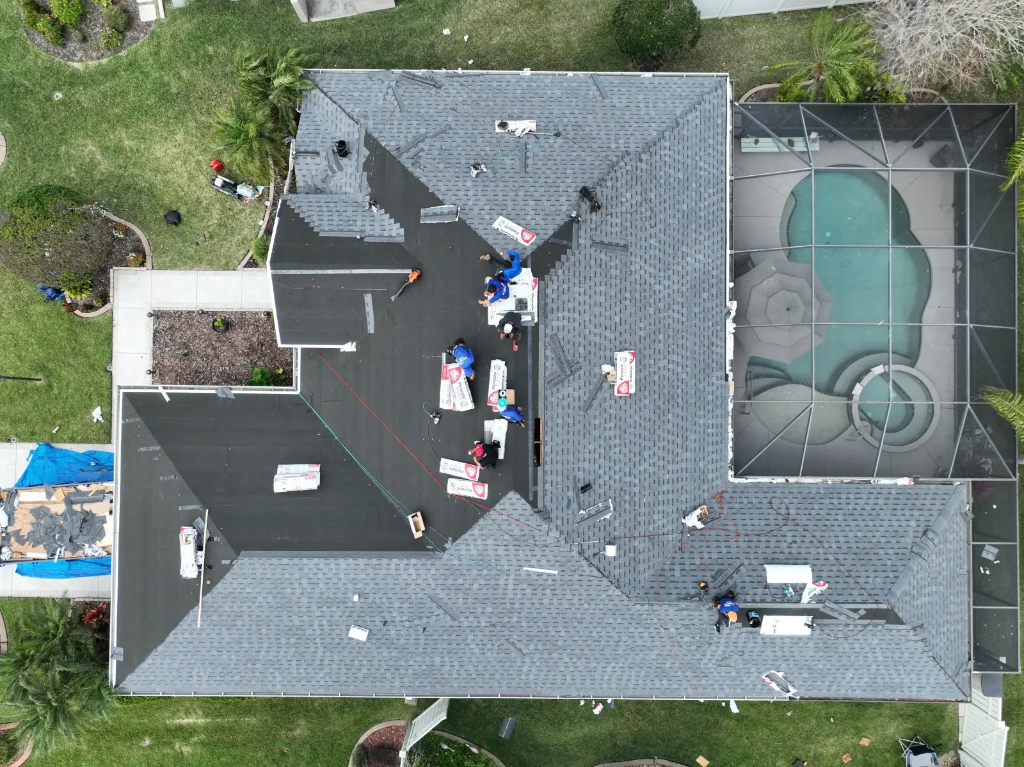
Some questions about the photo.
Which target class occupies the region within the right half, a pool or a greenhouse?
pool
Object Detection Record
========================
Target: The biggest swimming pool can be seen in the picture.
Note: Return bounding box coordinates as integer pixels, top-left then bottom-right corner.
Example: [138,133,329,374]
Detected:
[747,164,933,445]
